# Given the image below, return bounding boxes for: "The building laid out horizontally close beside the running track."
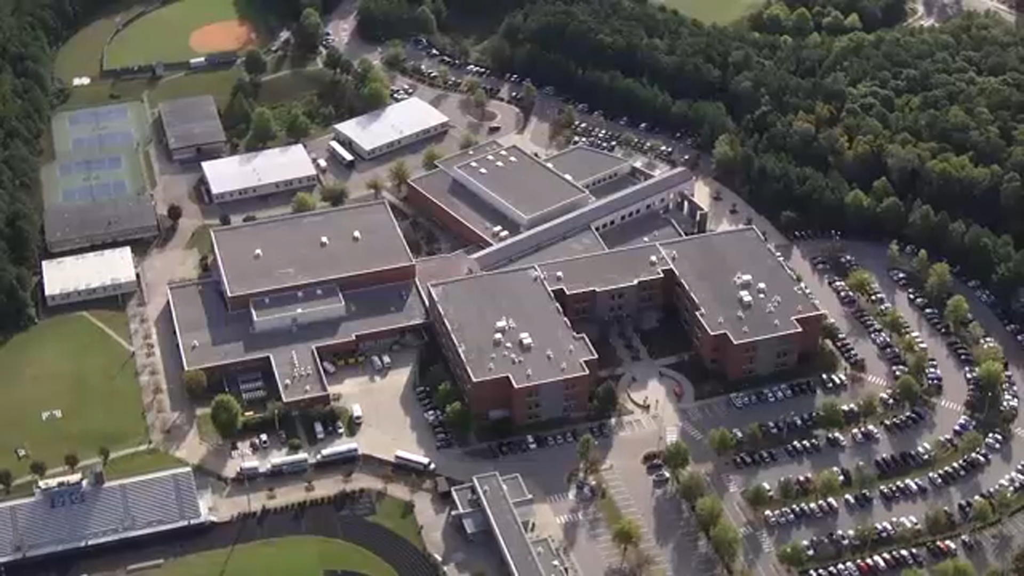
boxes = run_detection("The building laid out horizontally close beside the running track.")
[168,141,827,424]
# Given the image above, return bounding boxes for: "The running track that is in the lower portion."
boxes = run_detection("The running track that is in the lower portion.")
[3,508,438,576]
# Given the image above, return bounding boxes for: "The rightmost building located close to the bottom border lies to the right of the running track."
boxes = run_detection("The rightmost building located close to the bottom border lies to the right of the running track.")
[451,472,569,576]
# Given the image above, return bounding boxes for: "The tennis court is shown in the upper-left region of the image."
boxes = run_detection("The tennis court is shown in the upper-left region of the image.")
[45,100,153,204]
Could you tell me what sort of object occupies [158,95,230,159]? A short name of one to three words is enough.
building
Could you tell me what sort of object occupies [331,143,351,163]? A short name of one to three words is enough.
bus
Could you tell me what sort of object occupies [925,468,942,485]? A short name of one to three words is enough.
vehicle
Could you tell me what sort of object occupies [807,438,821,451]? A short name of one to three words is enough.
vehicle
